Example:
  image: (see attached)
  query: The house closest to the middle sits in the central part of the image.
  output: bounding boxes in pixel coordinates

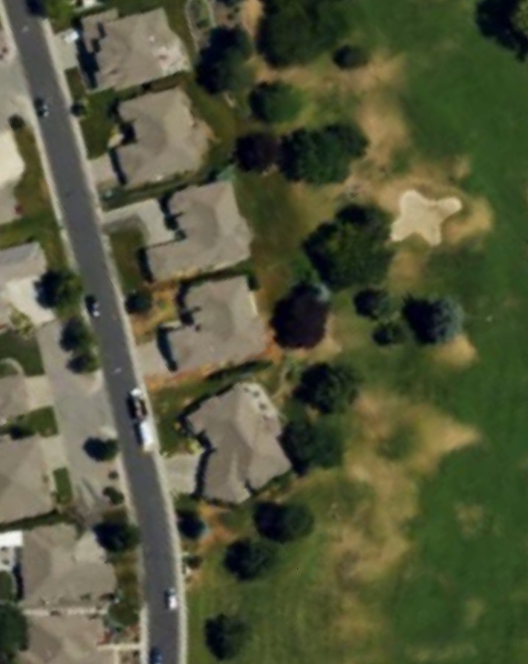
[159,277,265,371]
